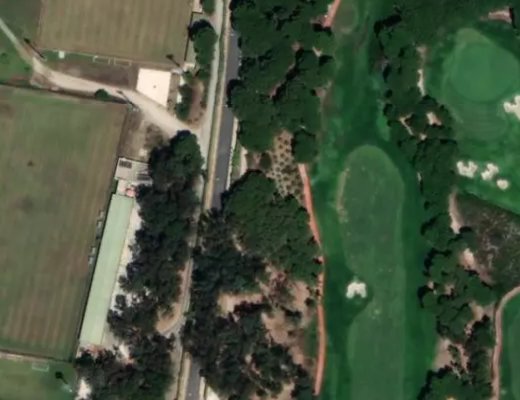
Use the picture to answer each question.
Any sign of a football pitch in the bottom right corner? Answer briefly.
No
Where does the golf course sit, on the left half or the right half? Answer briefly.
right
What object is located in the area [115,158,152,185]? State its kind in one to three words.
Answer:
building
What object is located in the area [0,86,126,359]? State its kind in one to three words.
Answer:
soccer field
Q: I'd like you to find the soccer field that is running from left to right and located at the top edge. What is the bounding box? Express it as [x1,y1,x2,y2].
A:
[39,0,193,65]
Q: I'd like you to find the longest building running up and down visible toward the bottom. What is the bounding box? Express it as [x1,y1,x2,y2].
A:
[79,196,134,347]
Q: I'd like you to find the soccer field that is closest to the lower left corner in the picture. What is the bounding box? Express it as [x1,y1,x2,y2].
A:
[0,360,75,400]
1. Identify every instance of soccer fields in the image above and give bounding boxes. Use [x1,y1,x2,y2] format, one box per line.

[39,0,193,65]
[0,360,75,400]
[0,86,126,359]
